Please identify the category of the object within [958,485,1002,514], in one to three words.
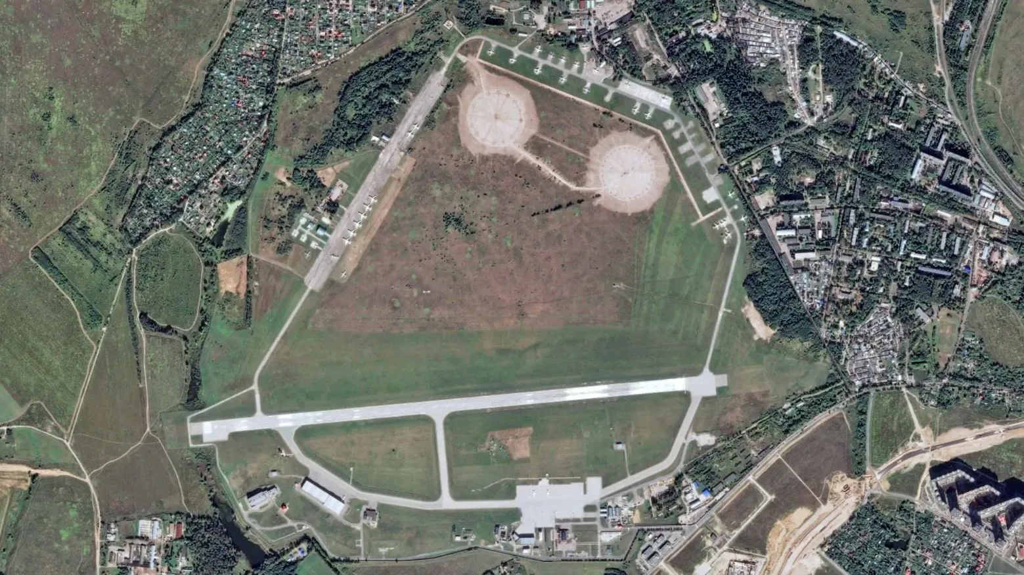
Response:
building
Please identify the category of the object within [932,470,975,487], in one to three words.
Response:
building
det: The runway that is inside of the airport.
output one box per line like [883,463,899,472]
[203,377,686,441]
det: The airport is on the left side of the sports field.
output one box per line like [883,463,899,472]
[188,24,741,559]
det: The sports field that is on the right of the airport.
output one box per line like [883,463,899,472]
[938,309,960,371]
